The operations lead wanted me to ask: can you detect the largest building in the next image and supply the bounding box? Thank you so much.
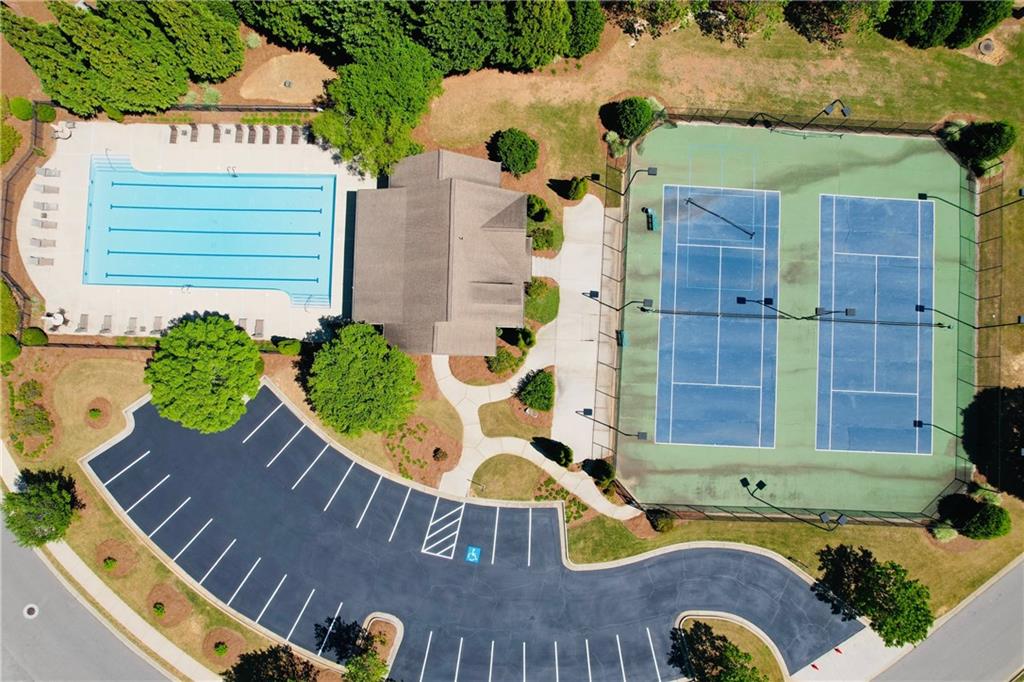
[350,151,533,357]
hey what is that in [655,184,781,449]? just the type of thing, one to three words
tennis court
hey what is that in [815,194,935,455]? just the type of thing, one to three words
tennis court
